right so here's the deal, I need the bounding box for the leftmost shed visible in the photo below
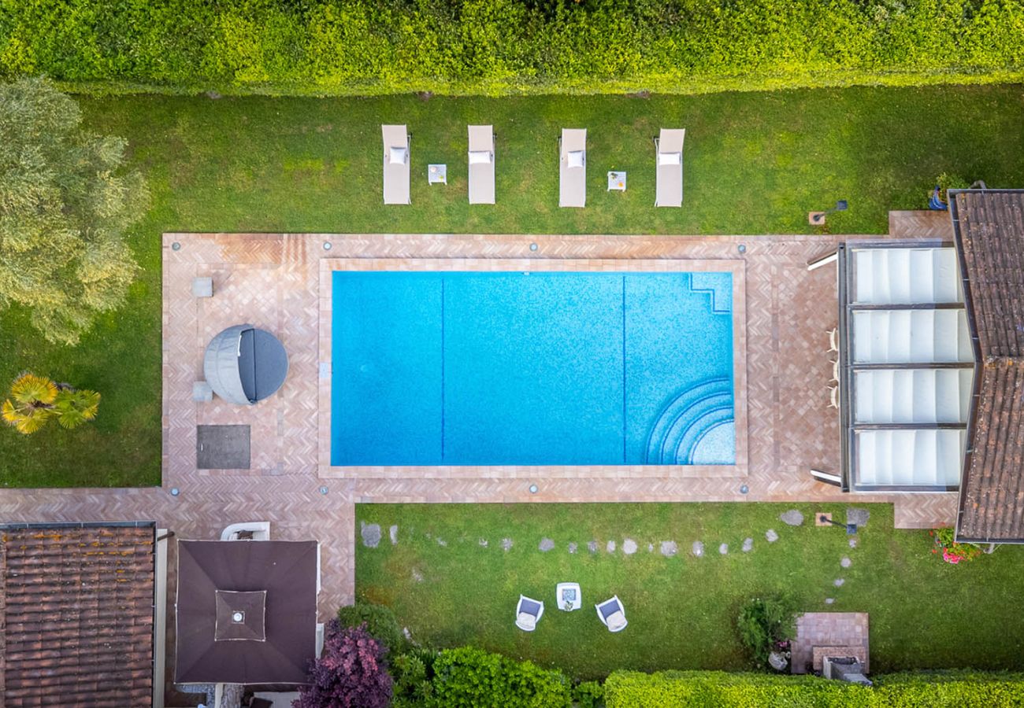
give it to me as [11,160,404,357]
[0,523,173,708]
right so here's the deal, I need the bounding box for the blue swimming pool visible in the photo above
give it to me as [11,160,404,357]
[318,259,748,477]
